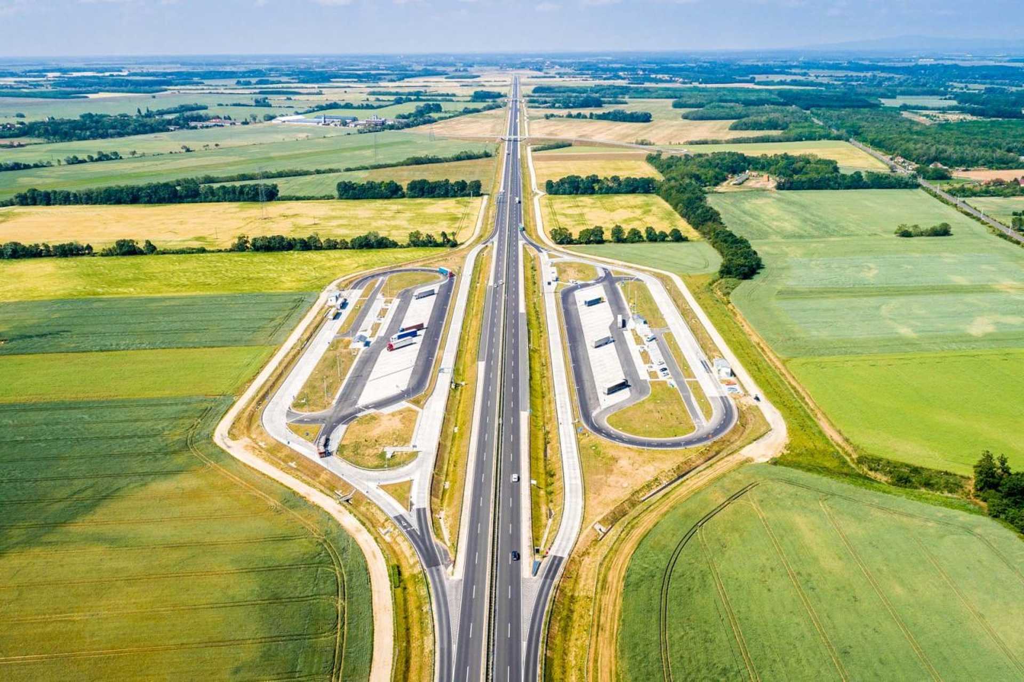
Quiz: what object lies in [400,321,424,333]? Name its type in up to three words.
vehicle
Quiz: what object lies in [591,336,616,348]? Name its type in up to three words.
vehicle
